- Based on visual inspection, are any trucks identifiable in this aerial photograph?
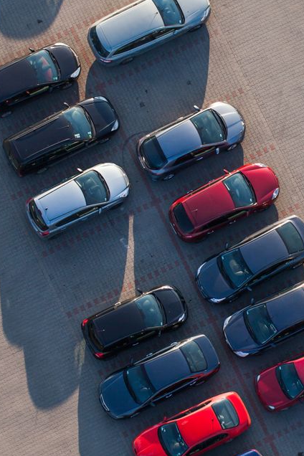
No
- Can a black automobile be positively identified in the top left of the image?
Yes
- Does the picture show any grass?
No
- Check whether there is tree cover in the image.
No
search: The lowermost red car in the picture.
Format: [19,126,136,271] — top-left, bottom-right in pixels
[133,389,251,456]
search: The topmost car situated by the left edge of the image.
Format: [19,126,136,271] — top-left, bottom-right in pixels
[0,43,82,116]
